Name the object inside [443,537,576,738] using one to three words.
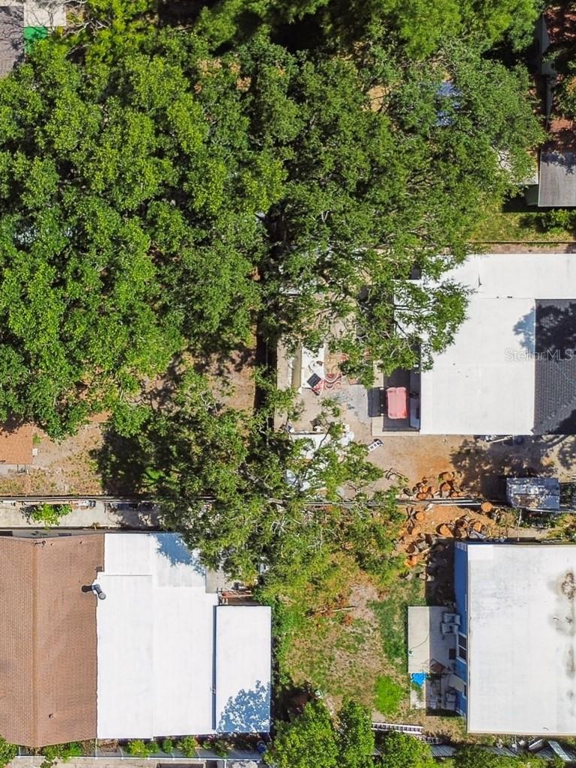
house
